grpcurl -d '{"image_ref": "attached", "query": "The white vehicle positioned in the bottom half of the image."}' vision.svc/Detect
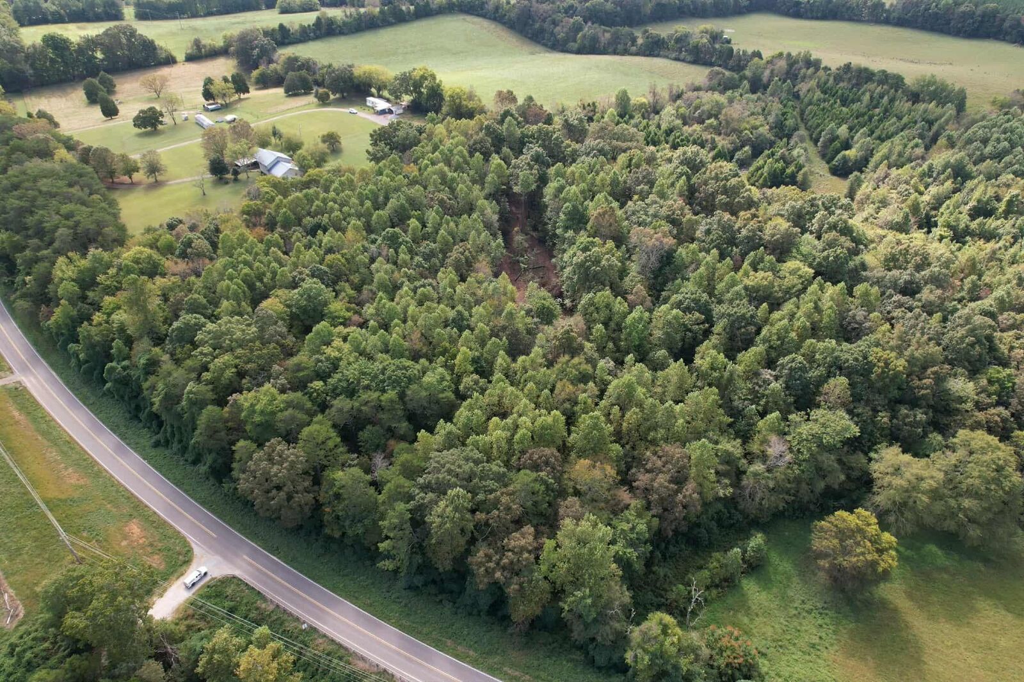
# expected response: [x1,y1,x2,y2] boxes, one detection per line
[180,565,209,589]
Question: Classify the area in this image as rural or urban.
rural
